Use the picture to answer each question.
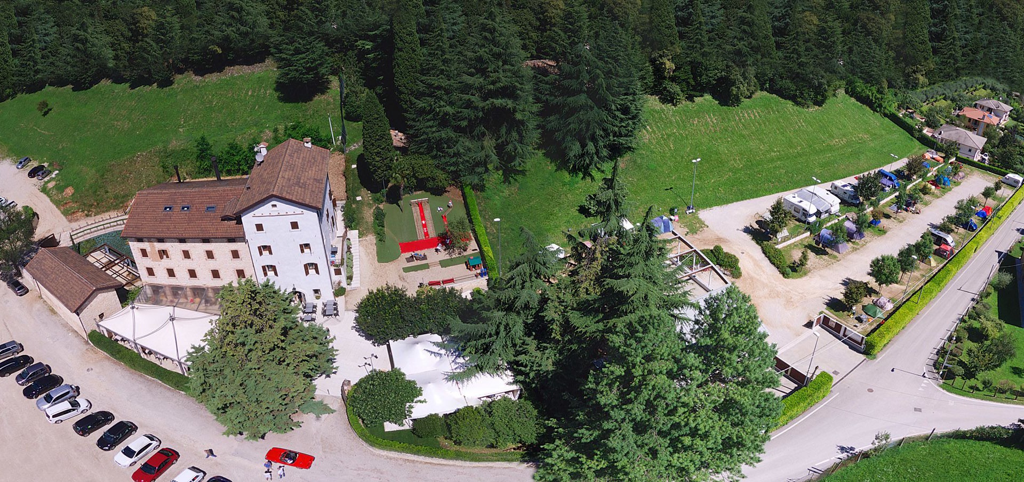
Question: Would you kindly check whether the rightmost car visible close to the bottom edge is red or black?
red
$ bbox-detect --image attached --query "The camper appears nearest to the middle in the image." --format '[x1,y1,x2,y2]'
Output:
[543,241,565,265]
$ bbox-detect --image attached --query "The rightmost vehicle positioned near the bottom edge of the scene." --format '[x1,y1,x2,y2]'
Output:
[267,447,317,475]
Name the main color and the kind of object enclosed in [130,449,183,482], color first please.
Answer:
red car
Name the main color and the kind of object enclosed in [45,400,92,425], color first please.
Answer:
white car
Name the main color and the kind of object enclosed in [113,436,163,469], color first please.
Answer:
white car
